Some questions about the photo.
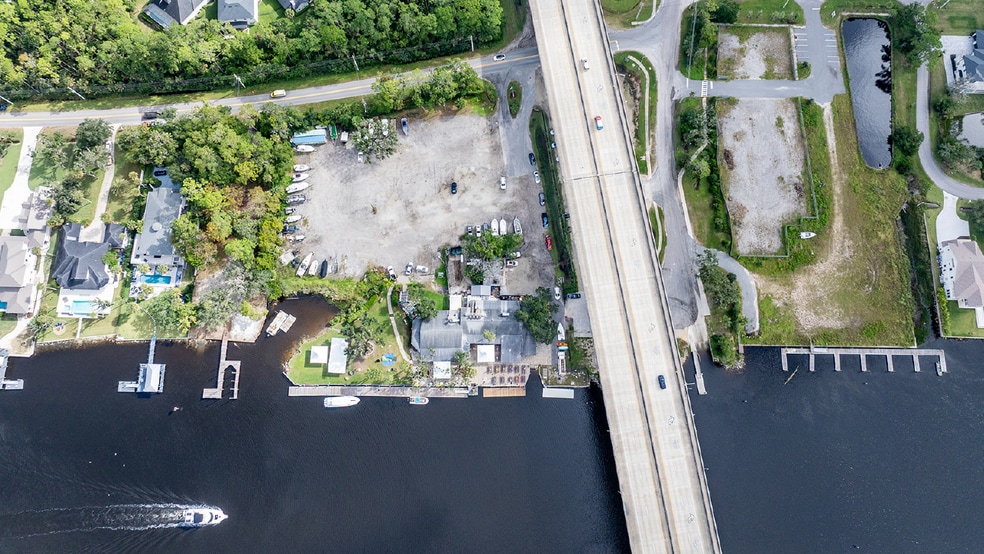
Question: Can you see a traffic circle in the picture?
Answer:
No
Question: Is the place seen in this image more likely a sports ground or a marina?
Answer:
marina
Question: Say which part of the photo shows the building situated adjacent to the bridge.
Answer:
center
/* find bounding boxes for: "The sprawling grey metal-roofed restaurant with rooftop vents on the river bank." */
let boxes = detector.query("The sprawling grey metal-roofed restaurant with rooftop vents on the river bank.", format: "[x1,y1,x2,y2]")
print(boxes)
[411,295,536,363]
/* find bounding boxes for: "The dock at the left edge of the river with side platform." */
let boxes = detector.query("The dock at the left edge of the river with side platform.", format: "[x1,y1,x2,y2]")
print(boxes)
[0,349,28,390]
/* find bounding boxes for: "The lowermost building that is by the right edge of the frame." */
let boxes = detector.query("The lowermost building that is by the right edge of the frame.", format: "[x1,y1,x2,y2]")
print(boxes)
[934,237,984,307]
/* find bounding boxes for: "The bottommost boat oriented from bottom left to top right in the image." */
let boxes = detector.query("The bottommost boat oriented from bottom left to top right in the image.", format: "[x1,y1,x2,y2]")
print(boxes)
[268,311,286,334]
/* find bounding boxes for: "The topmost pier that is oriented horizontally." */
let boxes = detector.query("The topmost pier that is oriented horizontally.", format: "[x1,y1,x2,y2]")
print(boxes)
[780,339,947,373]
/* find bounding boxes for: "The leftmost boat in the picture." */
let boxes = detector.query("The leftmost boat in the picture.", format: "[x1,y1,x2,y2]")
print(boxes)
[183,509,229,523]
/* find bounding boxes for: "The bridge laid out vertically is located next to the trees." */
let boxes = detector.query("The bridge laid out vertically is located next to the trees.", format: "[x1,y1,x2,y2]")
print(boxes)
[529,0,724,554]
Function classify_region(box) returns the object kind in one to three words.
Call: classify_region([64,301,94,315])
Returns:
swimming pool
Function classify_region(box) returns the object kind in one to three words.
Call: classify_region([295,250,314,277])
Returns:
boat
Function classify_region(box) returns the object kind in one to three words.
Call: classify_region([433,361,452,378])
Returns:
tent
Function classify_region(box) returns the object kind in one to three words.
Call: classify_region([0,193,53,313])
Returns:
house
